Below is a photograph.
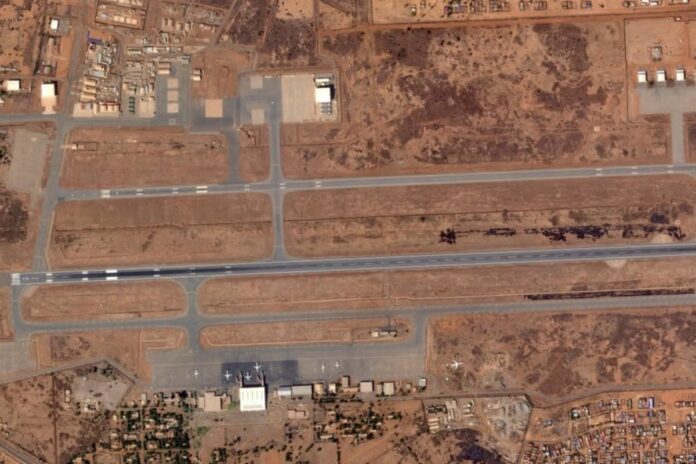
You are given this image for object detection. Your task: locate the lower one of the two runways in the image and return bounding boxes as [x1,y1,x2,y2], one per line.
[12,244,696,286]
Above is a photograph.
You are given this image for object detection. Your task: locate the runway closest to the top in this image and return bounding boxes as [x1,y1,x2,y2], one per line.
[57,162,696,200]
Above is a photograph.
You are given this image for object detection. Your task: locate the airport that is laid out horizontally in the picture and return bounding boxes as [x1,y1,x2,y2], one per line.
[0,58,696,391]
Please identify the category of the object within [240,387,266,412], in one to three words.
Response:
building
